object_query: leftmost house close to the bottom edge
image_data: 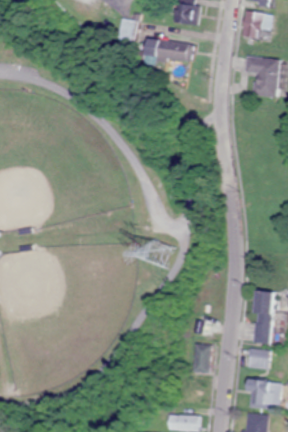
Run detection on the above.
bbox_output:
[168,415,203,431]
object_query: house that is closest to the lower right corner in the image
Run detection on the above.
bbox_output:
[248,414,272,432]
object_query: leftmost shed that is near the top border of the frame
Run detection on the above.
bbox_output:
[120,20,139,41]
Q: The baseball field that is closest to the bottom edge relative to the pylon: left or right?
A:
left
